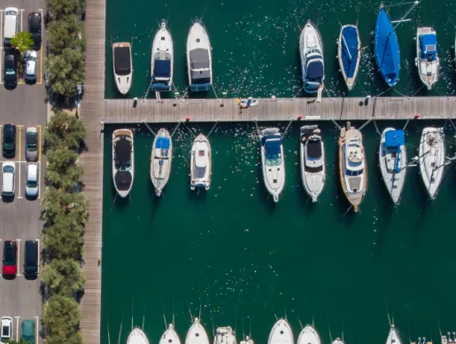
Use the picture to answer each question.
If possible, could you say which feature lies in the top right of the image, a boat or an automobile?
boat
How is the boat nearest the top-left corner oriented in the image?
from top to bottom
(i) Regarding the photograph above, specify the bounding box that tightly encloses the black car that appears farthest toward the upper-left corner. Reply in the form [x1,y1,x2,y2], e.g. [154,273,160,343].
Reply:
[28,12,43,51]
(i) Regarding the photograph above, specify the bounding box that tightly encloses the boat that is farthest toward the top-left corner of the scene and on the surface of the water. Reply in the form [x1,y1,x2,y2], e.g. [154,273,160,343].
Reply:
[111,33,134,97]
